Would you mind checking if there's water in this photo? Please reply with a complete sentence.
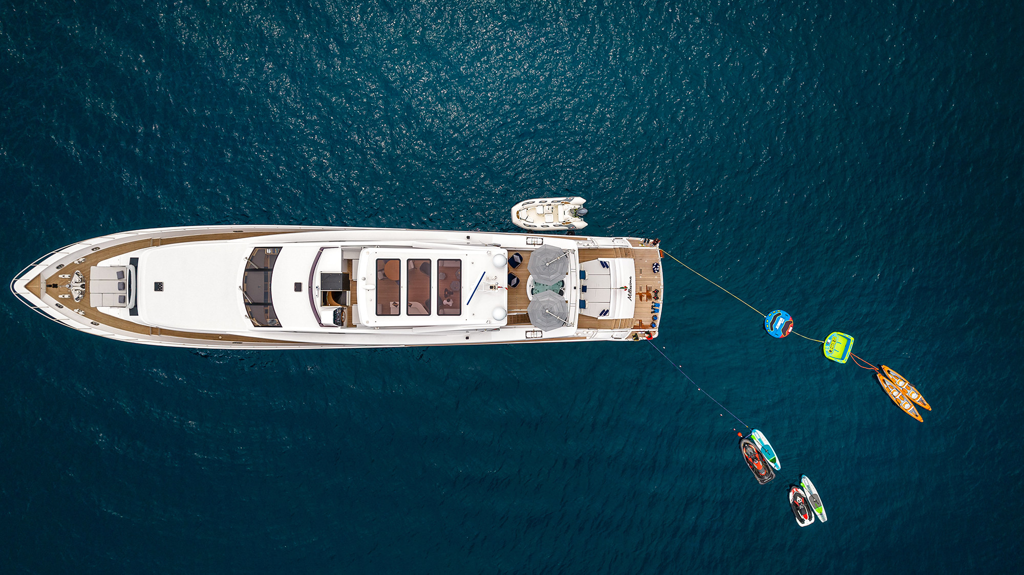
Yes, some water is visible.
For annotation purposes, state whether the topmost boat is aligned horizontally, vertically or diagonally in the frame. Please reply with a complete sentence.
I'd say the topmost boat is aligned horizontally in the picture.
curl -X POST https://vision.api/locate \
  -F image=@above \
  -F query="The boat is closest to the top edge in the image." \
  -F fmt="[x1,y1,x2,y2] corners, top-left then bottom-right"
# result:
[511,196,588,231]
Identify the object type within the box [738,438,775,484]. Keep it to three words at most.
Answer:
boat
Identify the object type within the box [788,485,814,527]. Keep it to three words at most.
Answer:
boat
